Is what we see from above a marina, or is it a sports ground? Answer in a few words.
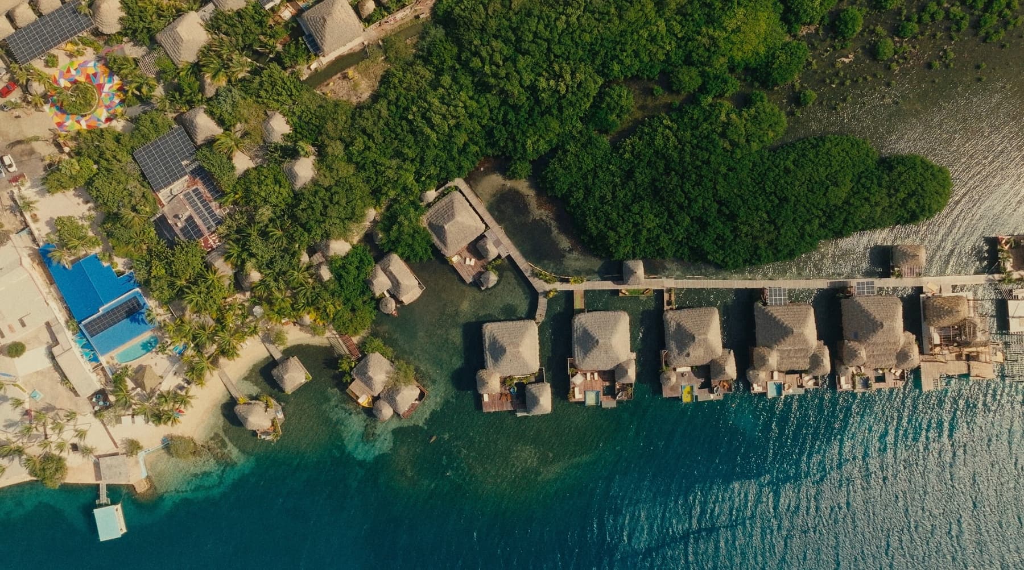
marina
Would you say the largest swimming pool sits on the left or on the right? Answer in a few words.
left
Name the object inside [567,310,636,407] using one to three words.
house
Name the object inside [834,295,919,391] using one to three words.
house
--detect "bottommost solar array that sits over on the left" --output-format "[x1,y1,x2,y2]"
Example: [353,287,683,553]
[83,296,143,339]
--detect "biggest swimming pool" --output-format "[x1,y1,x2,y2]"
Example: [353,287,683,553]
[113,332,160,365]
